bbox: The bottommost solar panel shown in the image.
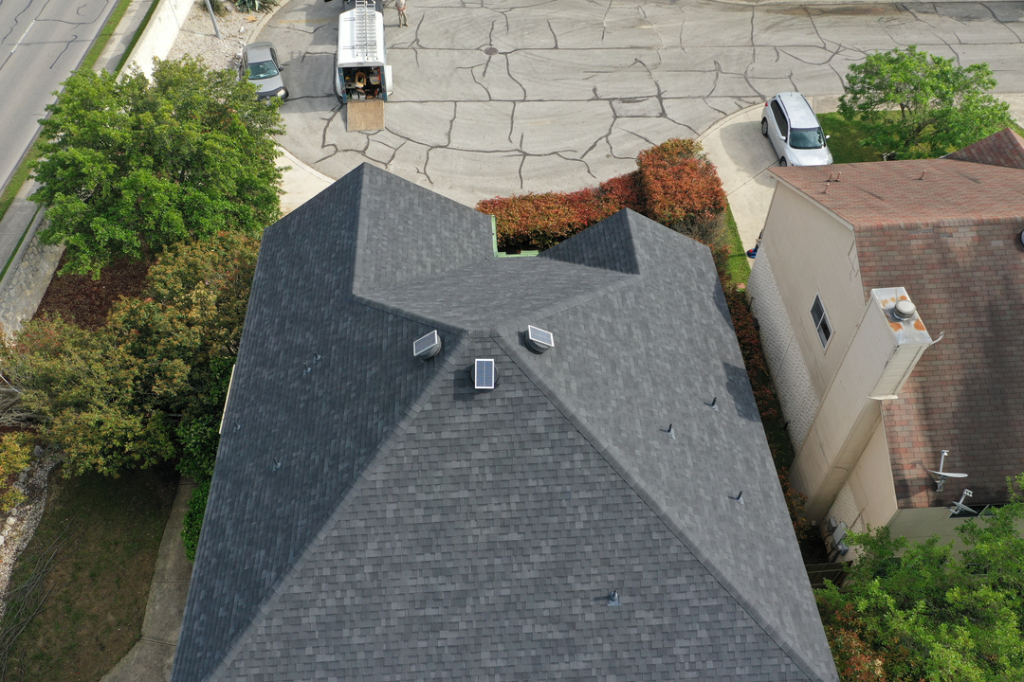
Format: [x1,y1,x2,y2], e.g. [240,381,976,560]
[474,359,494,390]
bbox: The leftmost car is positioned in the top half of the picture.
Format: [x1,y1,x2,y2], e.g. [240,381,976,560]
[240,41,287,100]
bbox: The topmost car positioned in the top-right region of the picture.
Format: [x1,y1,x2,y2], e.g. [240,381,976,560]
[759,87,834,168]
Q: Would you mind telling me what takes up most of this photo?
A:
buildings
